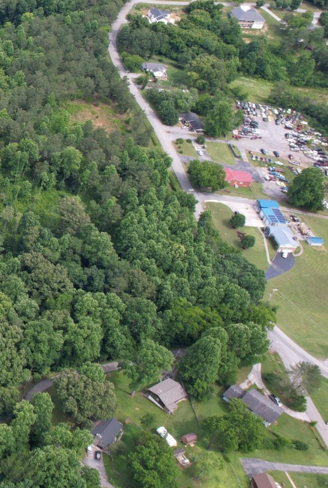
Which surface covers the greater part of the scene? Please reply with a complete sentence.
Most of the picture is covered by trees.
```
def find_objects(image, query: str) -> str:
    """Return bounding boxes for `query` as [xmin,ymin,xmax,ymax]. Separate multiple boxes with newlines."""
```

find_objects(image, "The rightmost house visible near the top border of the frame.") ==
[227,10,268,33]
